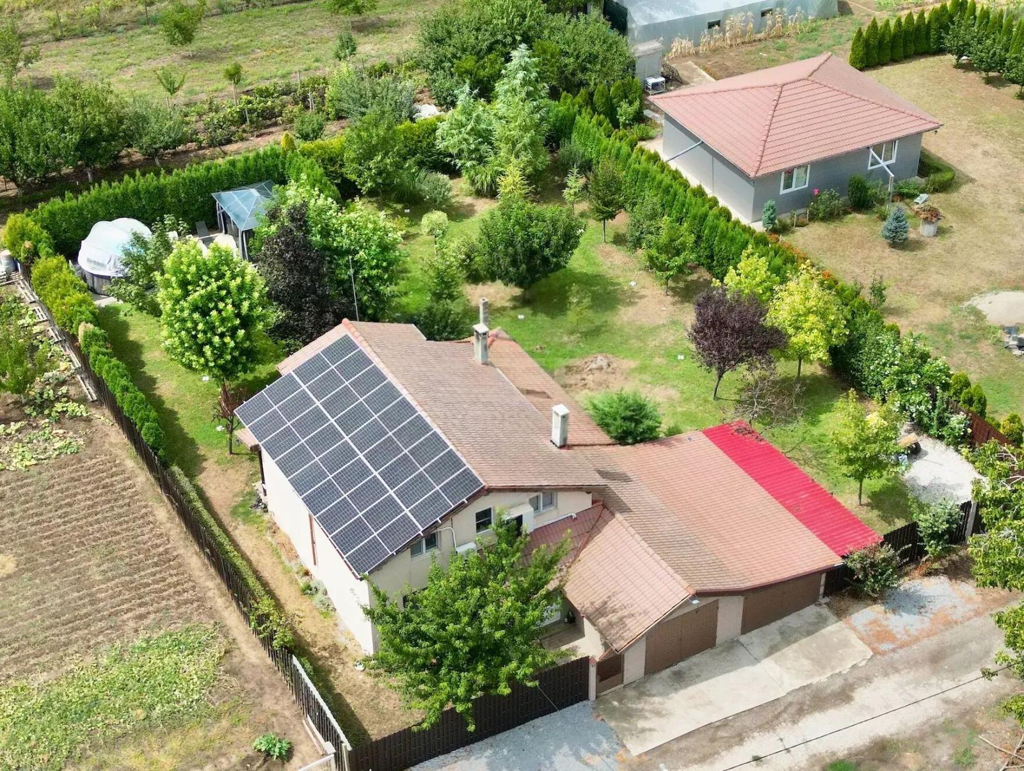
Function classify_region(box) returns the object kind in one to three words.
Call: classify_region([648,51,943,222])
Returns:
house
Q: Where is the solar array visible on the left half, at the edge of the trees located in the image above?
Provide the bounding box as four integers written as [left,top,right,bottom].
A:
[236,334,484,576]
